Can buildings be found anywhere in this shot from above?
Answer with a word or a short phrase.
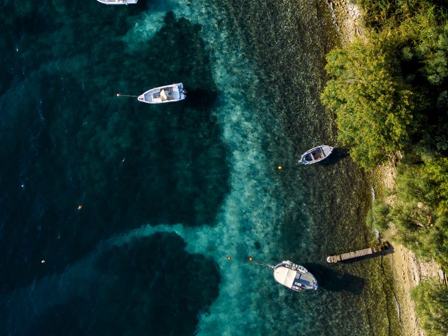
No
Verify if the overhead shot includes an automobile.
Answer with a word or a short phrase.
No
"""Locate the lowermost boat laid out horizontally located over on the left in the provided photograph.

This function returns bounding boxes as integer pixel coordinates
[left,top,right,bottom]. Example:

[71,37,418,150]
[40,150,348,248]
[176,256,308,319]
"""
[137,83,191,105]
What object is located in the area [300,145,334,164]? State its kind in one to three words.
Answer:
boat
